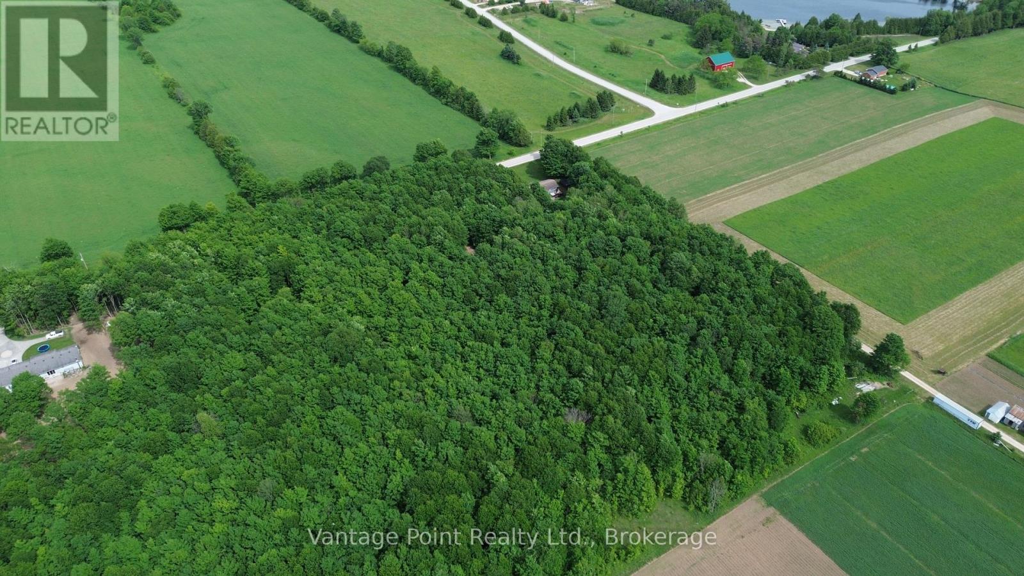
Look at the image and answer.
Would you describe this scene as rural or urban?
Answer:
rural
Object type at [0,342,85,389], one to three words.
house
